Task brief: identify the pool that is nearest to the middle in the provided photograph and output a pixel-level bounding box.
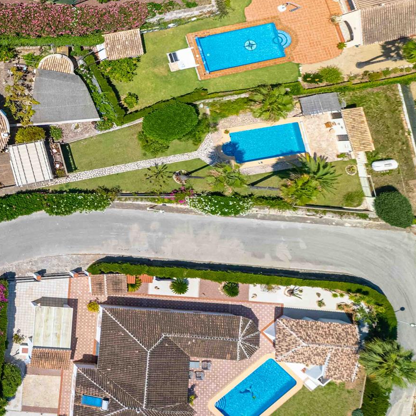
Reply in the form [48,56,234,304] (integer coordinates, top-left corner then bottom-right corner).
[223,123,307,163]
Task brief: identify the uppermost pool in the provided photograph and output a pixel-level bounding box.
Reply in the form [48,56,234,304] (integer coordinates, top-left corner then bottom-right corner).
[197,23,291,72]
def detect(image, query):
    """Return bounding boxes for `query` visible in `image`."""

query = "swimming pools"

[197,23,291,72]
[223,123,307,163]
[215,359,297,416]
